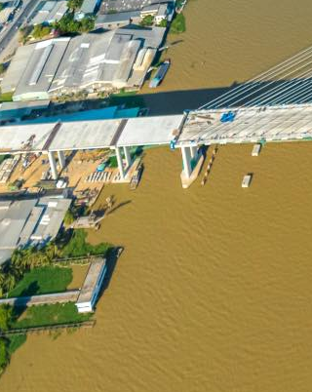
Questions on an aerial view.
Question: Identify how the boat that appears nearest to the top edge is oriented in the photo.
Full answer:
The boat that appears nearest to the top edge has been laid out diagonally relative to the frame.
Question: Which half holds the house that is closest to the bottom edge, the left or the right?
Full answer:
You can find the house that is closest to the bottom edge on the left side of the picture.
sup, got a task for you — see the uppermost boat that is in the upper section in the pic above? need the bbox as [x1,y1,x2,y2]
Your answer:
[147,57,170,86]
